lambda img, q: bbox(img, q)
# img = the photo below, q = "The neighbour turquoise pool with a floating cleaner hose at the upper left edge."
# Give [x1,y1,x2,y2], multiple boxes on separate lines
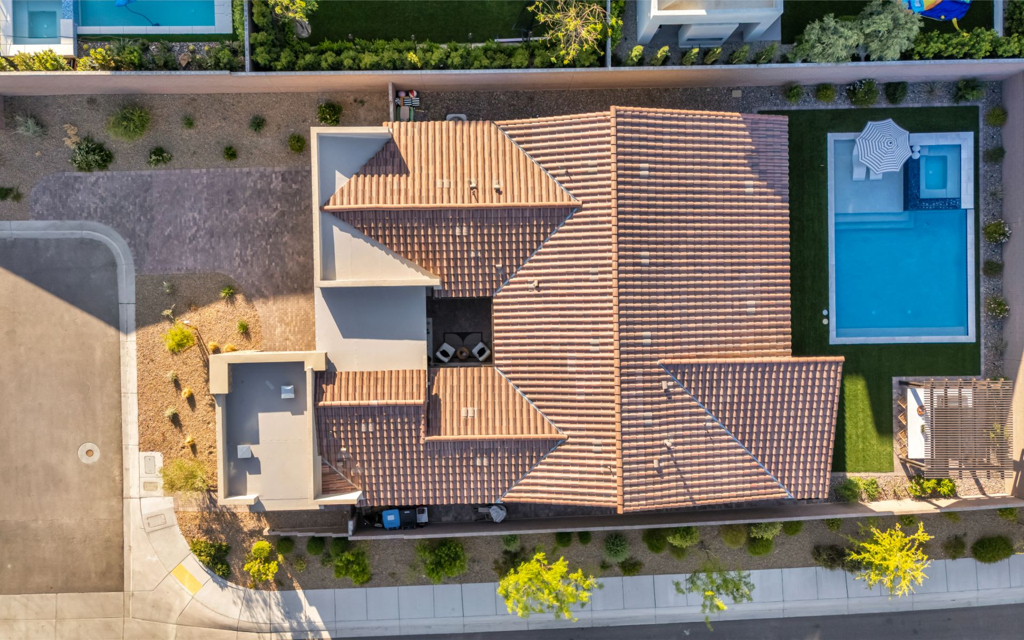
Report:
[78,0,233,33]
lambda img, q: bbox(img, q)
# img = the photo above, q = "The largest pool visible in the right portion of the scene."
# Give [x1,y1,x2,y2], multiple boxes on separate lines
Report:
[828,132,977,344]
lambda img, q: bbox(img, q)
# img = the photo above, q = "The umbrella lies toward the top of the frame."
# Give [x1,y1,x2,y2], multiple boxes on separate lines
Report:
[857,118,912,175]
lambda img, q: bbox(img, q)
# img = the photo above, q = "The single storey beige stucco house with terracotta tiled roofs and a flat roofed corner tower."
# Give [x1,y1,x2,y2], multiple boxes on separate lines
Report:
[210,103,848,517]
